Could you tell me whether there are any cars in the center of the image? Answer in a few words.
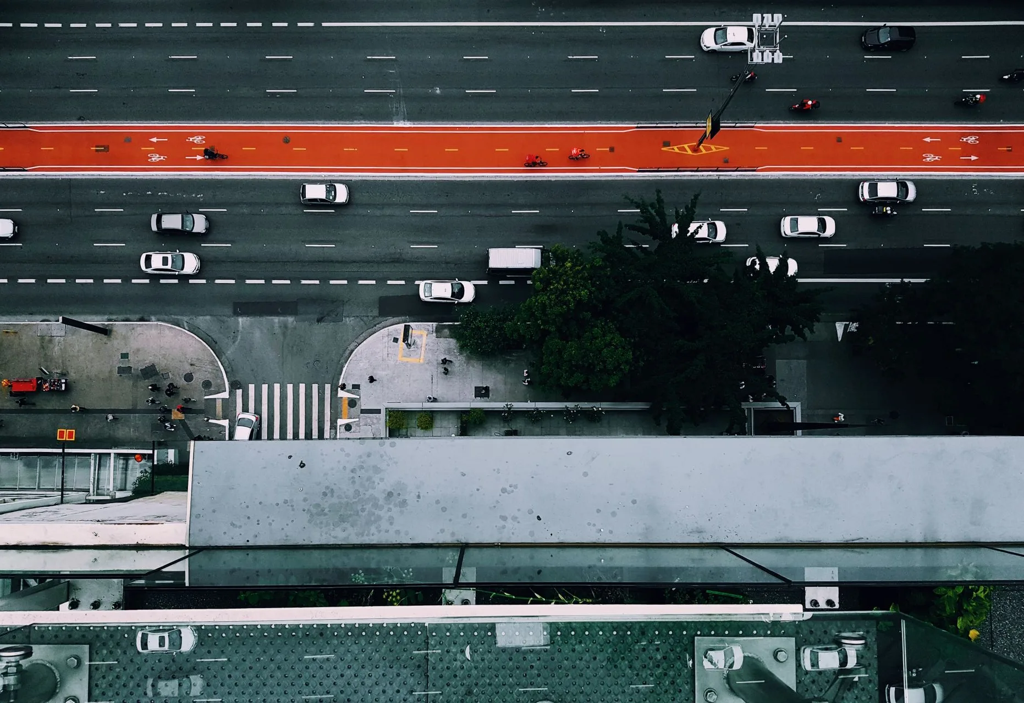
Yes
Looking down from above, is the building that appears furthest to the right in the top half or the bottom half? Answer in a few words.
bottom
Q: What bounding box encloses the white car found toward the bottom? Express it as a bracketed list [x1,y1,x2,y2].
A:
[231,411,259,440]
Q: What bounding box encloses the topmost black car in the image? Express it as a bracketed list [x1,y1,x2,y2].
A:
[861,24,916,52]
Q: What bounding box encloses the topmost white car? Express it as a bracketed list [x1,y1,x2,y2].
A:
[700,25,755,52]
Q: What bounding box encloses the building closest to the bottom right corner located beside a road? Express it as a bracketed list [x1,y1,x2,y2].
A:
[185,435,1024,563]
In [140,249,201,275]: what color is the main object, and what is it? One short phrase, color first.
white car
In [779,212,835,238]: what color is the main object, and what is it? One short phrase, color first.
white car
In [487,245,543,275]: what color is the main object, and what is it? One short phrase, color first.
white van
